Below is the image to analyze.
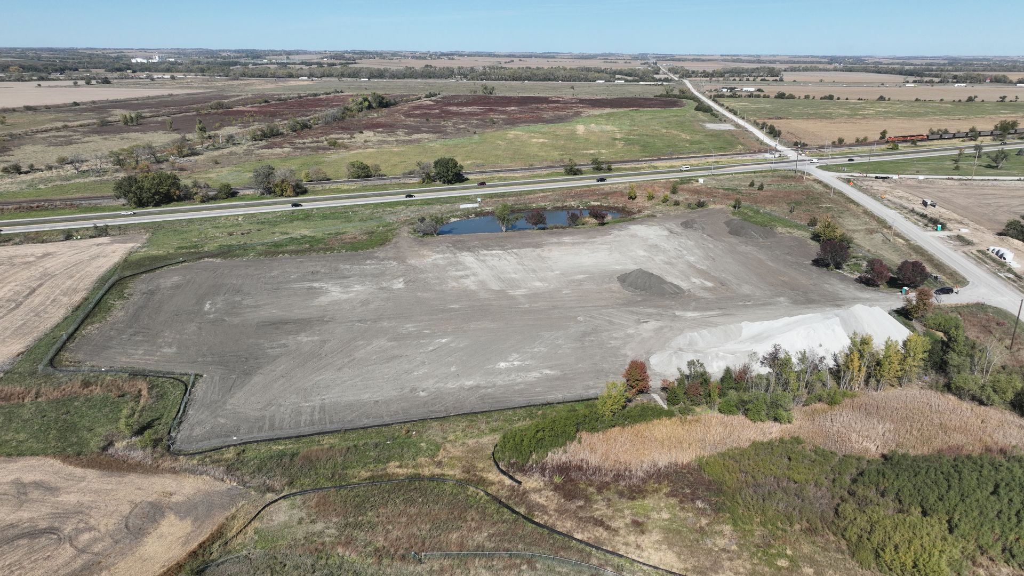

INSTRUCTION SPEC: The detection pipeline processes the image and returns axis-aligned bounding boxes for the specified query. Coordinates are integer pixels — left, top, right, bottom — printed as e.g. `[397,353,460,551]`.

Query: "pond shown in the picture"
[439,210,620,236]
